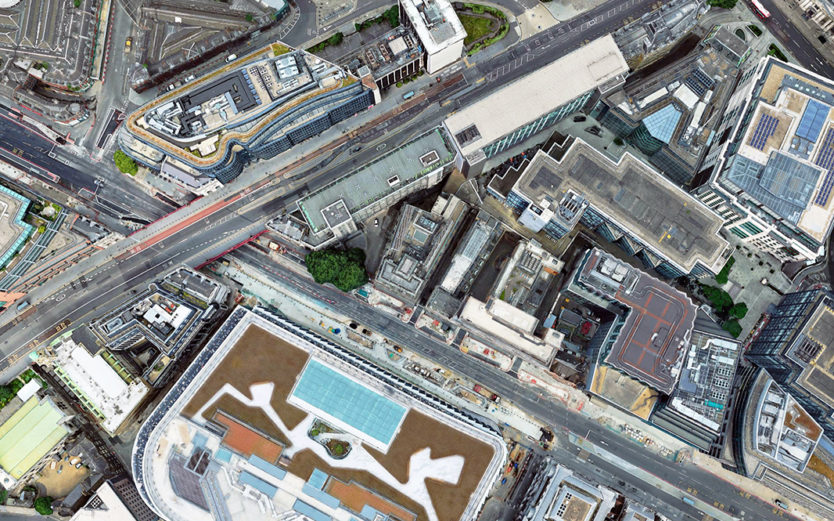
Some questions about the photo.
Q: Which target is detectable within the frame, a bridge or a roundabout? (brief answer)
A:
bridge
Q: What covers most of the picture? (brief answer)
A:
buildings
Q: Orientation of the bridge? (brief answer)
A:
horizontally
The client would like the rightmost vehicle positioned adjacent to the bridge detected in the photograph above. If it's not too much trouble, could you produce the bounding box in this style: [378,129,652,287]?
[264,240,284,253]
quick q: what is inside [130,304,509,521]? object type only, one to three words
building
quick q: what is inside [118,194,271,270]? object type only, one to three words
bridge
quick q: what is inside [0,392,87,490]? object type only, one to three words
building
